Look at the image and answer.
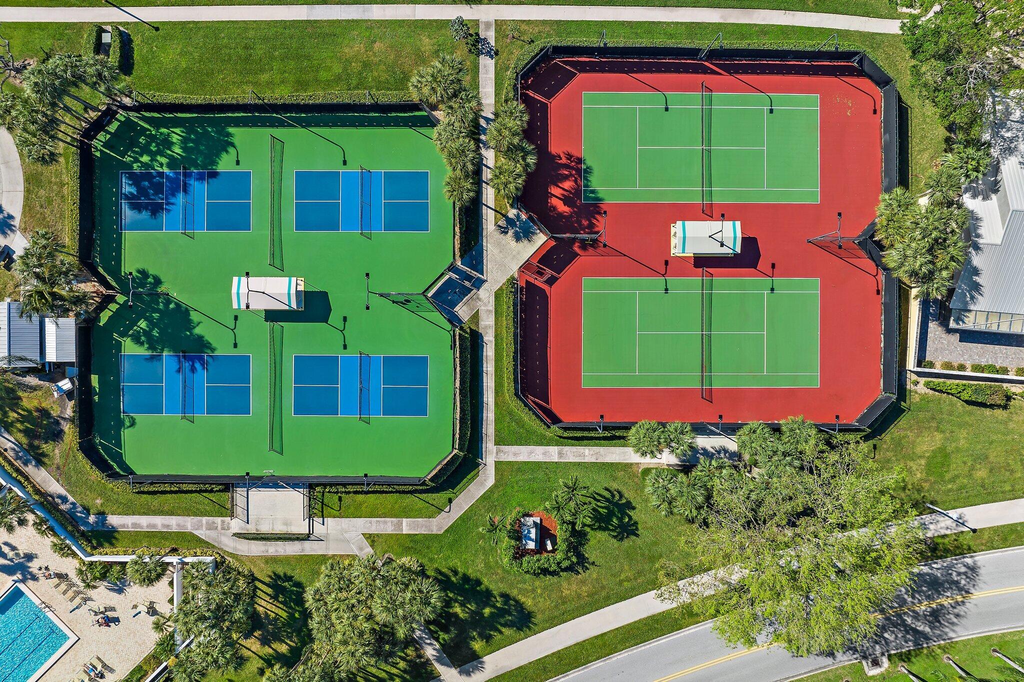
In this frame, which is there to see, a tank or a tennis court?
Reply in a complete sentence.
The one in the frame is a tennis court.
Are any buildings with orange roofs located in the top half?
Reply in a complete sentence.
No, the scene shows no building with an orange roof in the top half.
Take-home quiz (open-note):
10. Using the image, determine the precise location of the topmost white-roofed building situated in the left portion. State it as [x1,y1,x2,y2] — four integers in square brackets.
[232,277,304,310]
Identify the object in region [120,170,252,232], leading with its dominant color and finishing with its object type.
blue sports court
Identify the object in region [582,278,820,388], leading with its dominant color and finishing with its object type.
green tennis court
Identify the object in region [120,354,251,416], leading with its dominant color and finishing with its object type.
blue sports court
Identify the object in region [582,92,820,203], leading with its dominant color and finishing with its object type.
green tennis court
